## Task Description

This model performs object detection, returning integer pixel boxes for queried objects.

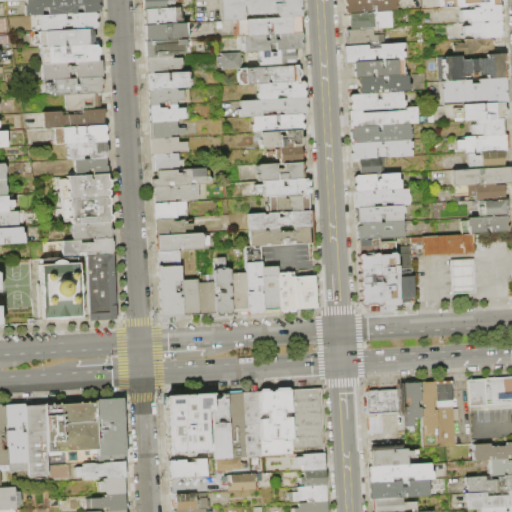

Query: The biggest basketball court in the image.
[4,262,32,310]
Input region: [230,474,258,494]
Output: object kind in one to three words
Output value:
house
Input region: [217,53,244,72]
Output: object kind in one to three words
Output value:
house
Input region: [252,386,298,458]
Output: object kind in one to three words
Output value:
building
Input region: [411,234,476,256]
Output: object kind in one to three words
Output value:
building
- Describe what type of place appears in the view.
residential area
